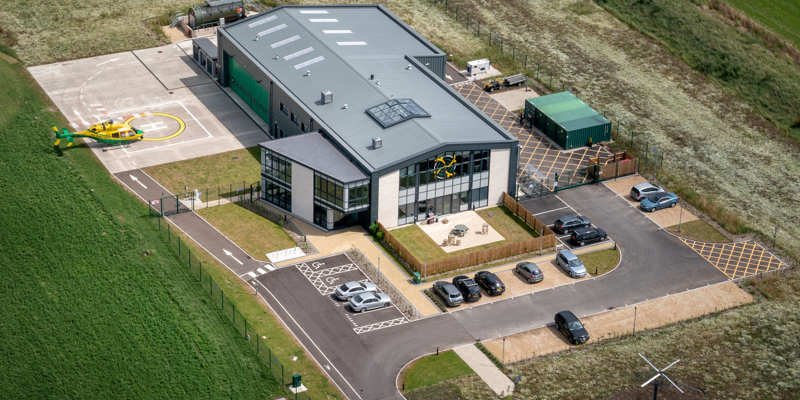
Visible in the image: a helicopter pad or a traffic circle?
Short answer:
helicopter pad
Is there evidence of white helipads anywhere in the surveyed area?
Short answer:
Yes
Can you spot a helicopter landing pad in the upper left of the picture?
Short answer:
Yes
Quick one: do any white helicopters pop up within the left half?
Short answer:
No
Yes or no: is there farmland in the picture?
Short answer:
Yes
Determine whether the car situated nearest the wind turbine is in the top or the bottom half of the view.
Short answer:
bottom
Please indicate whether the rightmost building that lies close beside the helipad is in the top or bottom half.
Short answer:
top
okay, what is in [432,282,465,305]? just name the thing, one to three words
car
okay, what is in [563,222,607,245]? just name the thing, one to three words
car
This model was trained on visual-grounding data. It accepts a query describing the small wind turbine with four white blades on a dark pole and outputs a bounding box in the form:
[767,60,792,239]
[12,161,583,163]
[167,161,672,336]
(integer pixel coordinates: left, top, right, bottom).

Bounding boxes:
[639,353,680,400]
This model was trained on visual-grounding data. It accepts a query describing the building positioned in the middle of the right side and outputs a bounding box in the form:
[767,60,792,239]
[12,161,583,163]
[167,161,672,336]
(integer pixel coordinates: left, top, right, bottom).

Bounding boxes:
[586,148,643,179]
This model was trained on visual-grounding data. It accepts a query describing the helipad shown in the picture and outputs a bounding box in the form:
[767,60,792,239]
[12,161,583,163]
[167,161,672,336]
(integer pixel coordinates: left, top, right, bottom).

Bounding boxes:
[27,41,279,173]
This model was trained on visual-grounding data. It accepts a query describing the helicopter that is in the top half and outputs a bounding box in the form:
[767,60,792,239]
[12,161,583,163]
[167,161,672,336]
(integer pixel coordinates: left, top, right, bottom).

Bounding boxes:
[48,108,153,151]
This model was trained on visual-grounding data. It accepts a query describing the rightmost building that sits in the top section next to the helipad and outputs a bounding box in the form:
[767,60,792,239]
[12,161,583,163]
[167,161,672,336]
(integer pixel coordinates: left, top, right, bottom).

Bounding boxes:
[216,4,521,231]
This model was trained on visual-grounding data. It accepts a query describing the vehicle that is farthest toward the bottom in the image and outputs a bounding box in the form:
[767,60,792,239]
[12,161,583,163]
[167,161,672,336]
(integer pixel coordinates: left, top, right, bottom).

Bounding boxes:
[554,309,592,345]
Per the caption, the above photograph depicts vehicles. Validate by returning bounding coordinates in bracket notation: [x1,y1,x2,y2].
[347,289,394,311]
[482,70,508,91]
[554,309,592,345]
[553,247,588,276]
[550,213,593,234]
[639,191,678,210]
[563,222,607,245]
[514,261,546,284]
[474,272,508,295]
[452,277,485,299]
[623,181,661,200]
[432,282,465,305]
[334,278,379,300]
